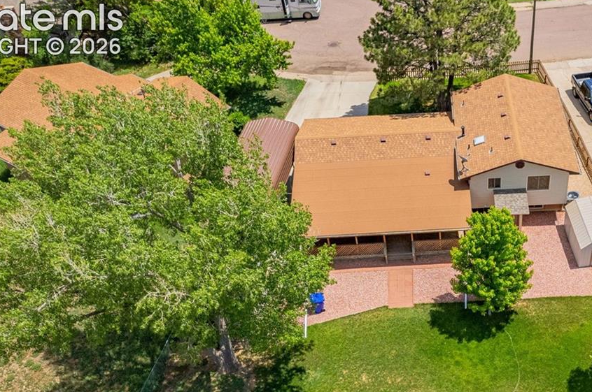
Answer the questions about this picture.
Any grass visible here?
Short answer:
Yes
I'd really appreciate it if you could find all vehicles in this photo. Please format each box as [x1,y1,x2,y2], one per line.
[246,0,327,20]
[572,72,592,117]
